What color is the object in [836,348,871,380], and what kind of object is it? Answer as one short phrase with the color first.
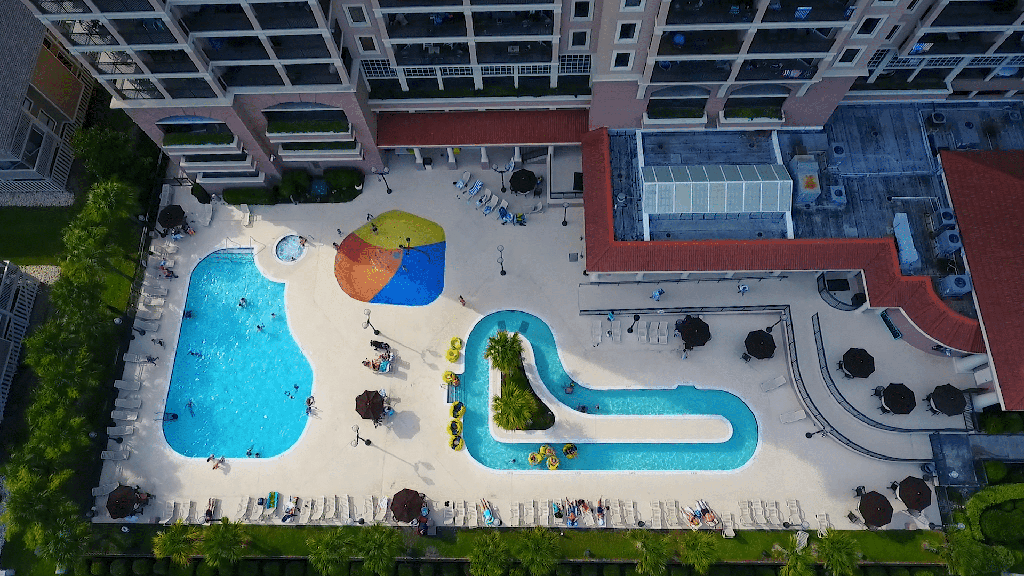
black umbrella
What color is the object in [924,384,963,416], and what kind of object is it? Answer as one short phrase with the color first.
black umbrella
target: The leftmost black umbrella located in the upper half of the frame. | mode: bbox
[160,205,191,230]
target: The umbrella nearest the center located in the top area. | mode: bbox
[510,172,537,199]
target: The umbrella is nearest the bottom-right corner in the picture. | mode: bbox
[891,476,929,512]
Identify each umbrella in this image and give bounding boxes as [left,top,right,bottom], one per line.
[743,331,775,362]
[853,492,889,528]
[678,319,710,349]
[160,205,191,230]
[112,484,148,519]
[358,389,388,420]
[392,488,424,522]
[510,172,537,199]
[836,348,871,380]
[924,384,963,416]
[877,384,913,415]
[891,476,929,512]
